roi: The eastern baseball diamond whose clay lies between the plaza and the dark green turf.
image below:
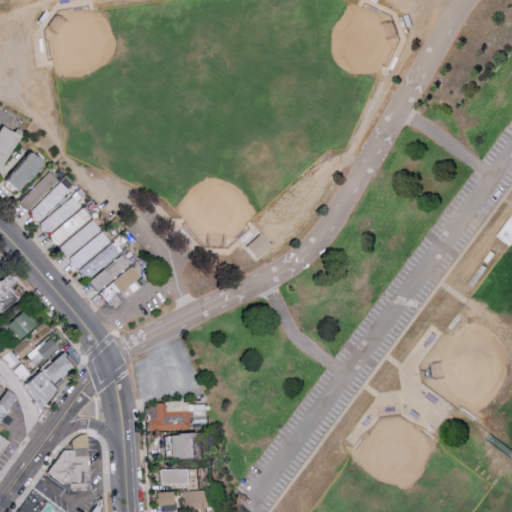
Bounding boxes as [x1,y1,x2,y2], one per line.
[421,244,512,412]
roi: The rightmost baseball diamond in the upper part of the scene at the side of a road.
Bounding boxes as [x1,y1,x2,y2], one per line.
[222,0,399,136]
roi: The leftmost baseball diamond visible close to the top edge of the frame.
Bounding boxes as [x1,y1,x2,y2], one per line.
[46,0,222,156]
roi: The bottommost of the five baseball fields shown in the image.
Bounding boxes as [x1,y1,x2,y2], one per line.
[312,416,492,512]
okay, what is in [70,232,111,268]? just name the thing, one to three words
house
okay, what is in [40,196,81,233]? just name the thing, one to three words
house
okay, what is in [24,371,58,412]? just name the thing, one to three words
building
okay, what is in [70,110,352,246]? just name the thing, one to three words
baseball field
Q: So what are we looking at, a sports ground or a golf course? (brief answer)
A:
sports ground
